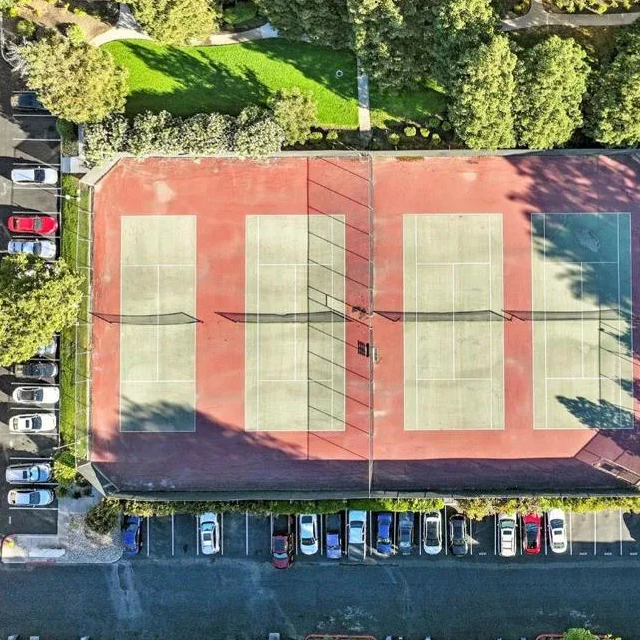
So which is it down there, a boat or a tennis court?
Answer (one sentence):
Looking from above, you can make out a tennis court.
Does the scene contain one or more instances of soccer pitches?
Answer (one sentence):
No, I can see no soccer pitch in this picture.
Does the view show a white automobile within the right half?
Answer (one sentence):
Yes, a white automobile is visible within the right half.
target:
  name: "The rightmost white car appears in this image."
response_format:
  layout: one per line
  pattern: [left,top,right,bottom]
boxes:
[547,508,567,554]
